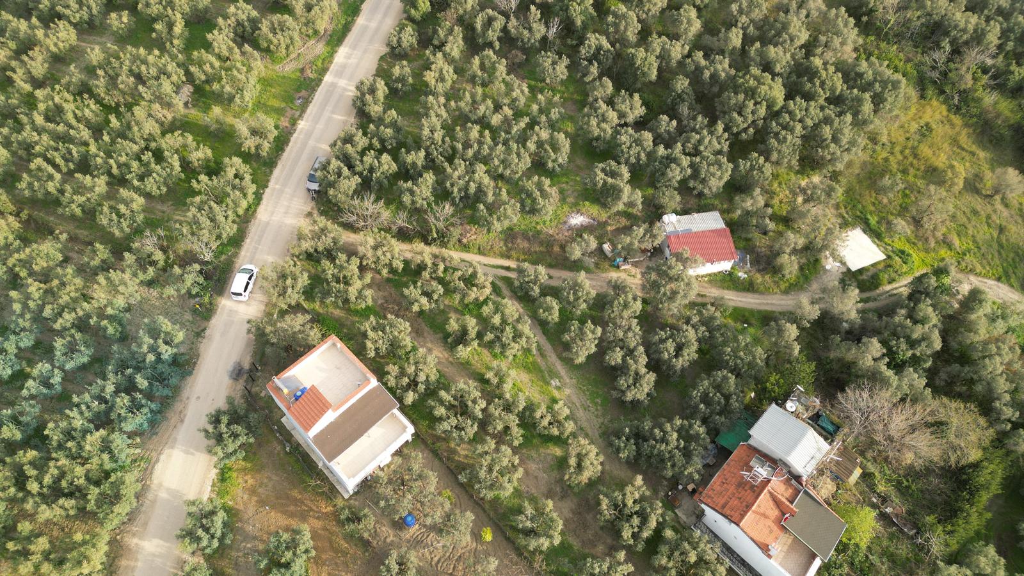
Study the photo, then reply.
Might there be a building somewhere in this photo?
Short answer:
Yes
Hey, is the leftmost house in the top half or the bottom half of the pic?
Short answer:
bottom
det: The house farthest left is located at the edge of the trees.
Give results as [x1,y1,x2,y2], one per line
[265,334,416,495]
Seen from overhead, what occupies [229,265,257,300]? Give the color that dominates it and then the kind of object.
white car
